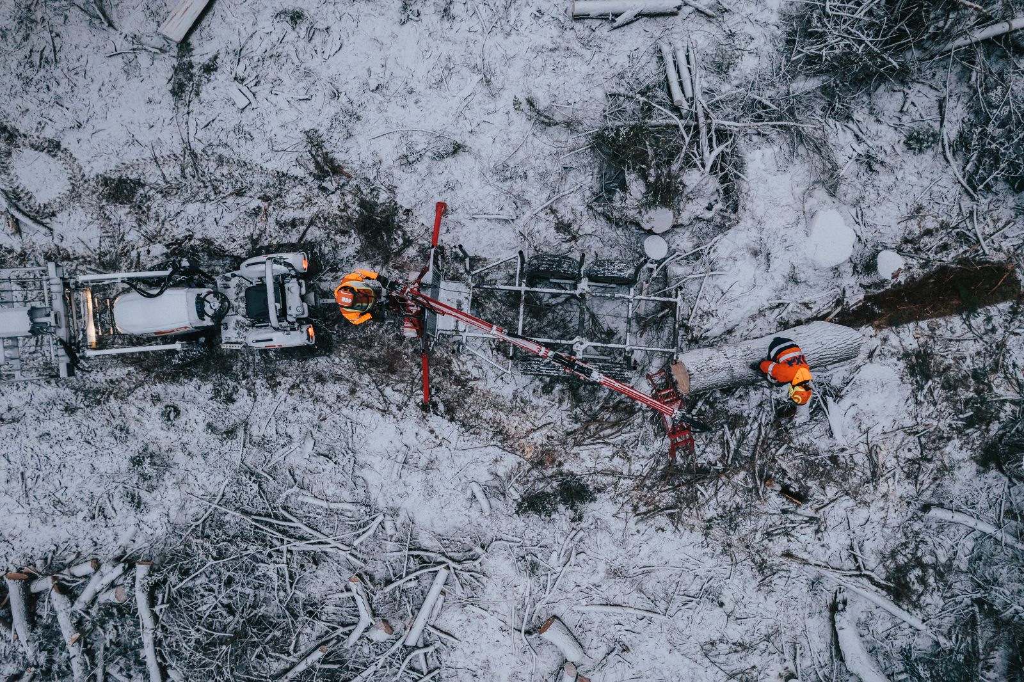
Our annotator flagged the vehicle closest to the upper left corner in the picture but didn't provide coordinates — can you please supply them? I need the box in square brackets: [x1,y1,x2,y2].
[68,239,337,366]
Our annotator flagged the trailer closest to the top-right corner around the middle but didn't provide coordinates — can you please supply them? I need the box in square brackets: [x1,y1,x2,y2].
[372,243,686,381]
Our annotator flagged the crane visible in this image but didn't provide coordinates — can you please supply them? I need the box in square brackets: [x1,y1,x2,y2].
[384,196,713,431]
